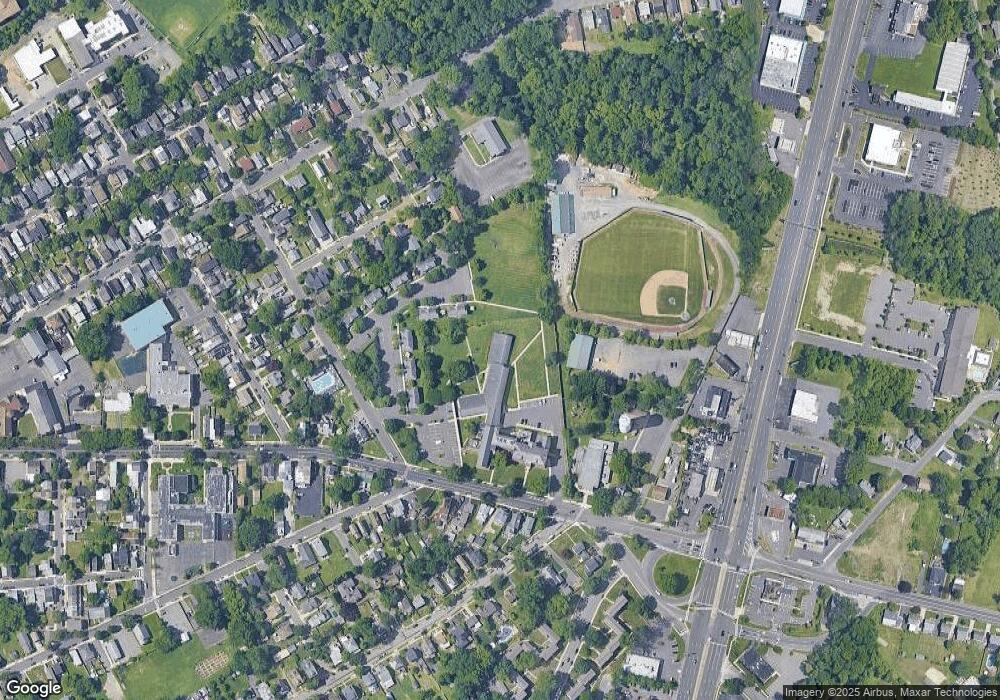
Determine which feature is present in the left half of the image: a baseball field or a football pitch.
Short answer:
baseball field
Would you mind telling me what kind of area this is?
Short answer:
residential area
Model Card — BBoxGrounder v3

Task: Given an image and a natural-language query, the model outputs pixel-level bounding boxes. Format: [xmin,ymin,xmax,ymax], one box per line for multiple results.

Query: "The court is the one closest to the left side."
[120,352,146,376]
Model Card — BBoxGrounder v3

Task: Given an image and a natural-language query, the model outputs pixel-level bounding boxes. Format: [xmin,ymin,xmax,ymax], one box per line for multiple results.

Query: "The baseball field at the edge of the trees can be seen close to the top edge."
[131,0,224,55]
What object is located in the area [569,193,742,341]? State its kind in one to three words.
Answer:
baseball field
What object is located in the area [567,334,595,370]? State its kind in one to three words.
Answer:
shed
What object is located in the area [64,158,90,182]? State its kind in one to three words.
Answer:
house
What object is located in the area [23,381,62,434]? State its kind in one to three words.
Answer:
building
